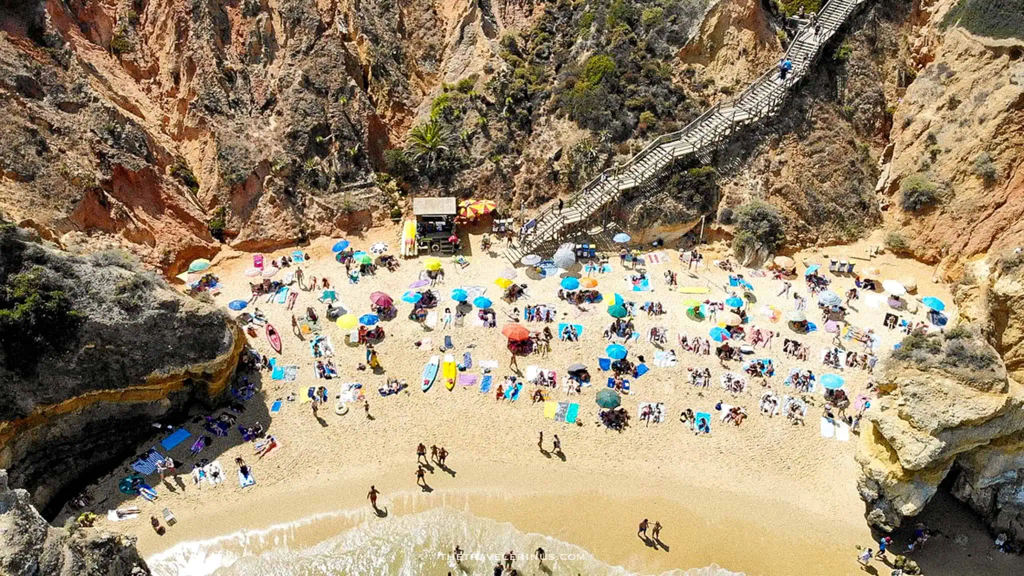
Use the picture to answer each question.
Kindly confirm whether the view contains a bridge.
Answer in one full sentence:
No, this view has no bridge in it.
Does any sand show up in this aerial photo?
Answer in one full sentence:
Yes, the picture does contain sand.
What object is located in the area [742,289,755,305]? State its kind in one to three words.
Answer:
umbrella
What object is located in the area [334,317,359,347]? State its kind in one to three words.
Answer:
umbrella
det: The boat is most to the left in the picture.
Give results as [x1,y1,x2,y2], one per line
[263,320,283,352]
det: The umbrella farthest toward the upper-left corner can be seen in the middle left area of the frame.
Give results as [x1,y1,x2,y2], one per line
[193,256,212,287]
